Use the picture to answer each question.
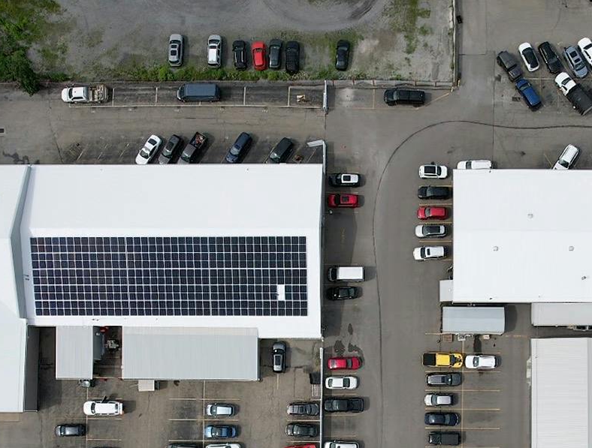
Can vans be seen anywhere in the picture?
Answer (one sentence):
Yes, there's a van down there.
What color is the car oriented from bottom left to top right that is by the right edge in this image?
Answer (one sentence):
The car oriented from bottom left to top right that is by the right edge looks white in the image.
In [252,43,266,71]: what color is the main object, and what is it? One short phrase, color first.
red car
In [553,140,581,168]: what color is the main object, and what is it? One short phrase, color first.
white car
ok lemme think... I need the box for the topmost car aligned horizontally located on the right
[384,88,423,106]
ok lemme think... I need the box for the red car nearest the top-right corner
[417,206,447,221]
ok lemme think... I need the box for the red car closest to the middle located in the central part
[327,193,359,208]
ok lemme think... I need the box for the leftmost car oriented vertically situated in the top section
[168,36,183,68]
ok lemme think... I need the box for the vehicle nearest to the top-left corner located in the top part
[64,84,109,102]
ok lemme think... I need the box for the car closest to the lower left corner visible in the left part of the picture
[56,423,87,437]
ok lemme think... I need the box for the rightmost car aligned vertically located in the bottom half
[272,341,286,372]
